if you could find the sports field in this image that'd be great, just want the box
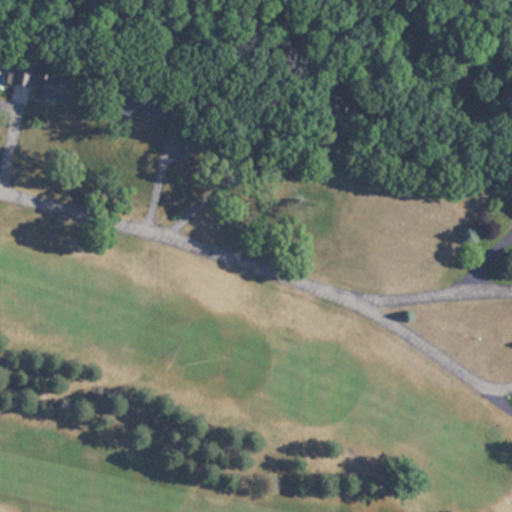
[166,270,270,408]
